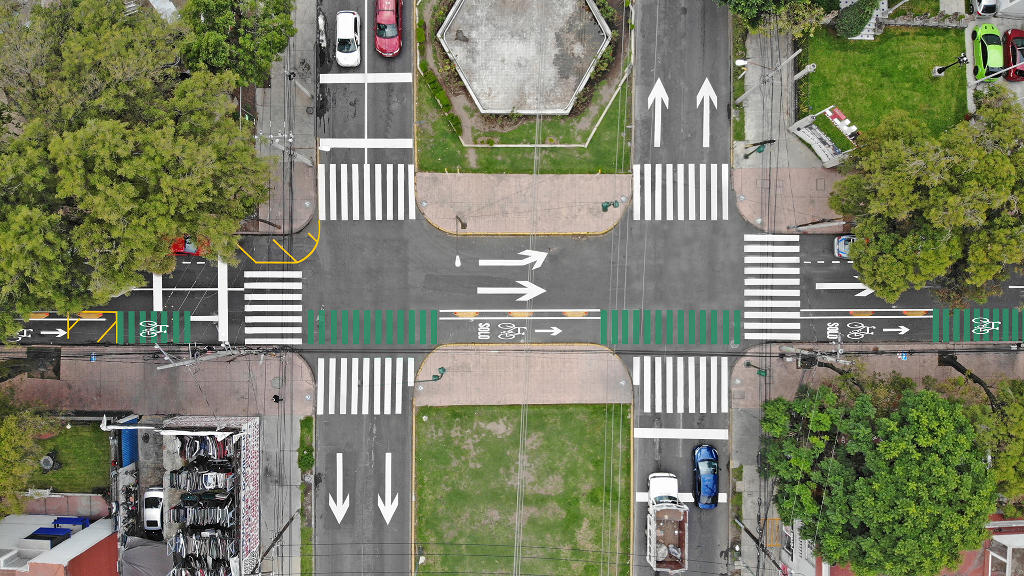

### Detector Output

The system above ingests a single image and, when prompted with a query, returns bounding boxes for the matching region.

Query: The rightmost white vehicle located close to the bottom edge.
[644,470,688,572]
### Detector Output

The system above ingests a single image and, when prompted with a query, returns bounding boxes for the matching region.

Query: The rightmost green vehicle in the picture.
[972,20,1010,79]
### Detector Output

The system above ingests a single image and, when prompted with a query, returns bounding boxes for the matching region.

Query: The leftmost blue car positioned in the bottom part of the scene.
[693,445,725,511]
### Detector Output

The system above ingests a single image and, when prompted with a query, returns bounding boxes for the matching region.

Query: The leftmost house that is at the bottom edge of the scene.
[0,518,116,576]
